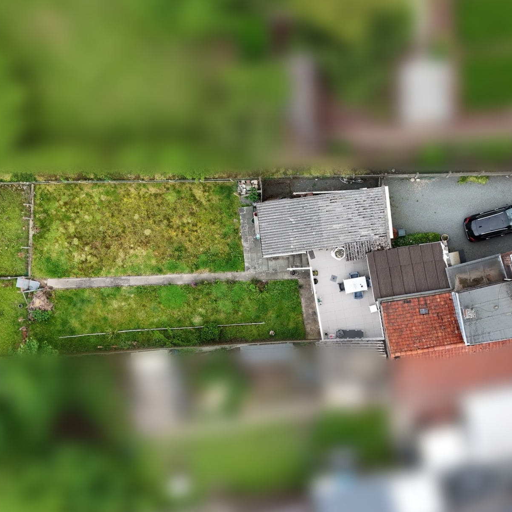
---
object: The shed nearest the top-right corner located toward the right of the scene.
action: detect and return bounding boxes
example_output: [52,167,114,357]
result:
[399,63,451,129]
